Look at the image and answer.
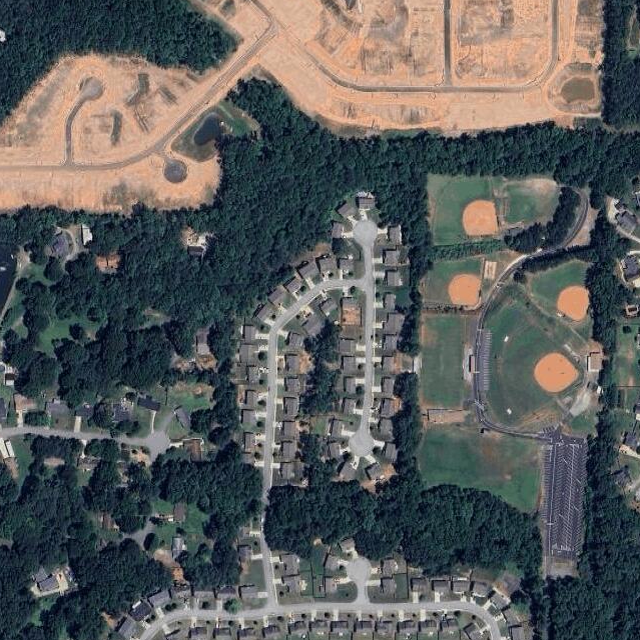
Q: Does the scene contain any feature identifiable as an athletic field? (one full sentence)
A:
Yes, I can see an athletic field in this picture.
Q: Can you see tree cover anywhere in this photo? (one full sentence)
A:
Yes, some tree cover is visible.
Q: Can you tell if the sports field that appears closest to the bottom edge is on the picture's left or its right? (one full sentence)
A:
The sports field that appears closest to the bottom edge is on the right side of the image.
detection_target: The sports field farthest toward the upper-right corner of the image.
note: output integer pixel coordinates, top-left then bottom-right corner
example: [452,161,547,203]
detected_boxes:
[501,176,559,229]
